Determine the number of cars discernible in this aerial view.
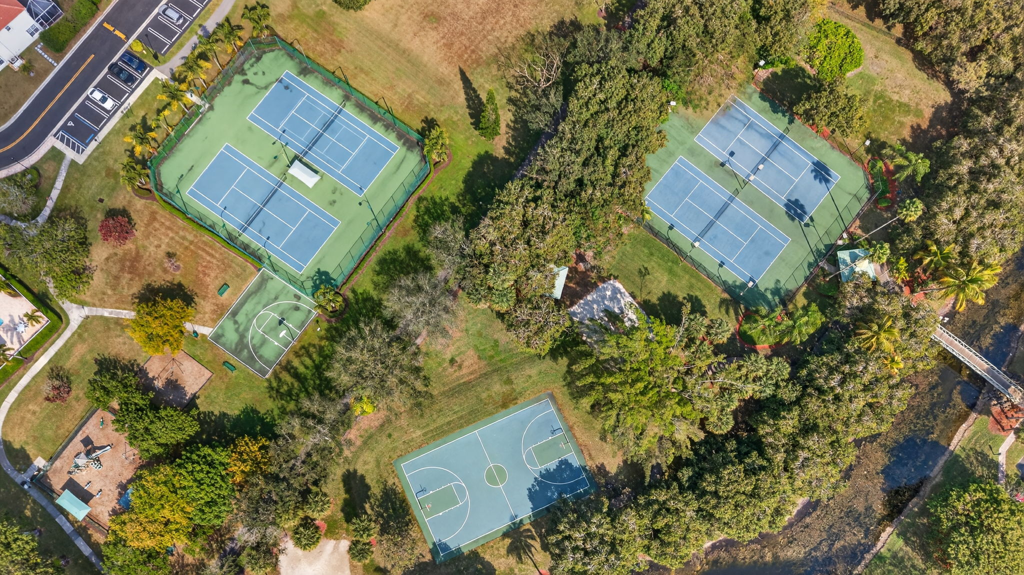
4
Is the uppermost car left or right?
left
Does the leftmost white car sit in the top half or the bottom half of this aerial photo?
top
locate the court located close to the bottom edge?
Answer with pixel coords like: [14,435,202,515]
[394,393,598,564]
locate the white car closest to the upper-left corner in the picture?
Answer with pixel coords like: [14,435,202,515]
[86,87,115,109]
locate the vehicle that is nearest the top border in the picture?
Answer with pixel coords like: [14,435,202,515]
[157,3,184,24]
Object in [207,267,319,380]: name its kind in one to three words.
basketball court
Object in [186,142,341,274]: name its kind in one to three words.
tennis court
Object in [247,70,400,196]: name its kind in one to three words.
tennis court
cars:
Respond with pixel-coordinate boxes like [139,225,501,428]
[119,49,147,71]
[107,62,136,84]
[157,3,184,24]
[86,87,115,109]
